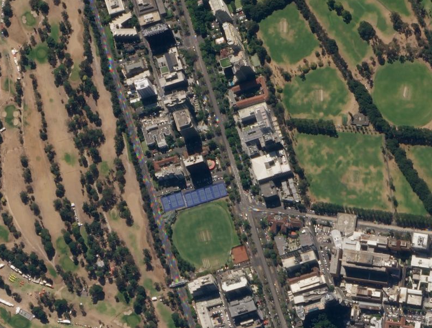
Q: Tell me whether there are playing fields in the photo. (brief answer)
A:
Yes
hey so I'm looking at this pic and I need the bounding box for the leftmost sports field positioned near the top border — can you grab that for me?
[261,4,317,64]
